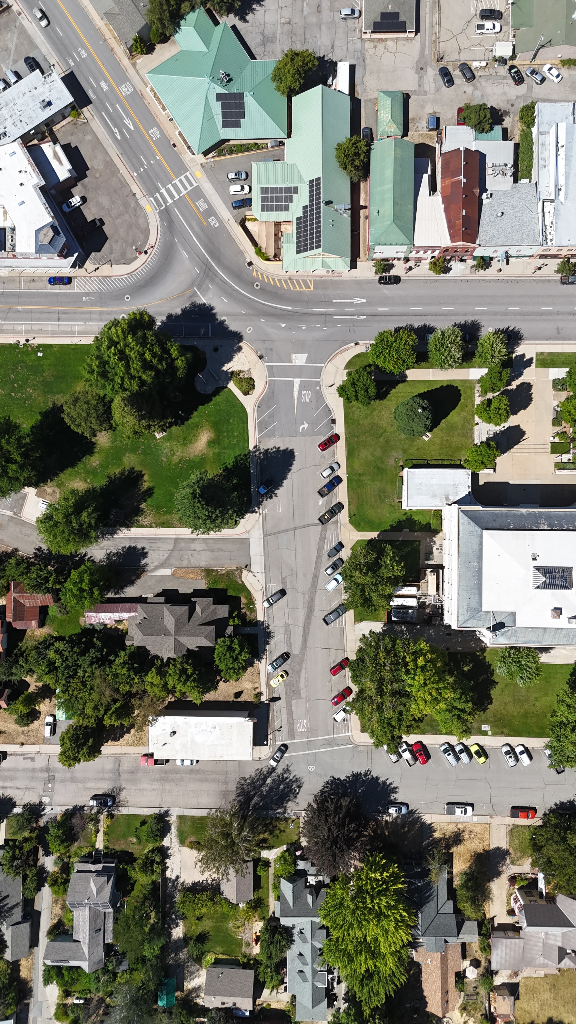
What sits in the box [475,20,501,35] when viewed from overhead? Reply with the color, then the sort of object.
white vehicle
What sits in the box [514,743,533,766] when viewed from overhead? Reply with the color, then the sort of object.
white car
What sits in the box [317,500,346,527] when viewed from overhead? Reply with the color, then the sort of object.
black truck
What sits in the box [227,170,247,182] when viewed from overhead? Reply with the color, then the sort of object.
gray vehicle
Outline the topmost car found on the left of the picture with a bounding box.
[32,6,49,29]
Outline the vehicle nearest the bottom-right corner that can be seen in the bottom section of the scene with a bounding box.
[509,807,536,819]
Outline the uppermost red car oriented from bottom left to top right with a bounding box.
[318,433,340,452]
